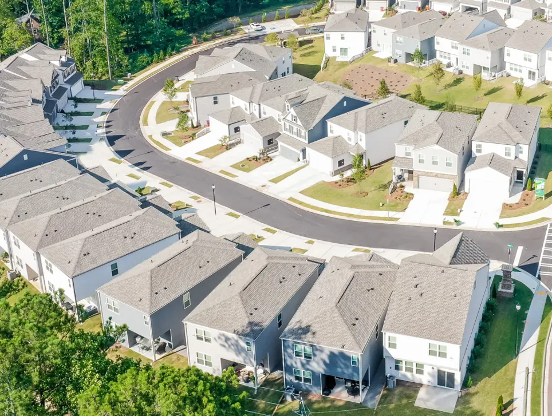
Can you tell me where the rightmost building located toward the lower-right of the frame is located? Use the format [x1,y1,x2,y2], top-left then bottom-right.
[381,241,491,405]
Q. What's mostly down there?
buildings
